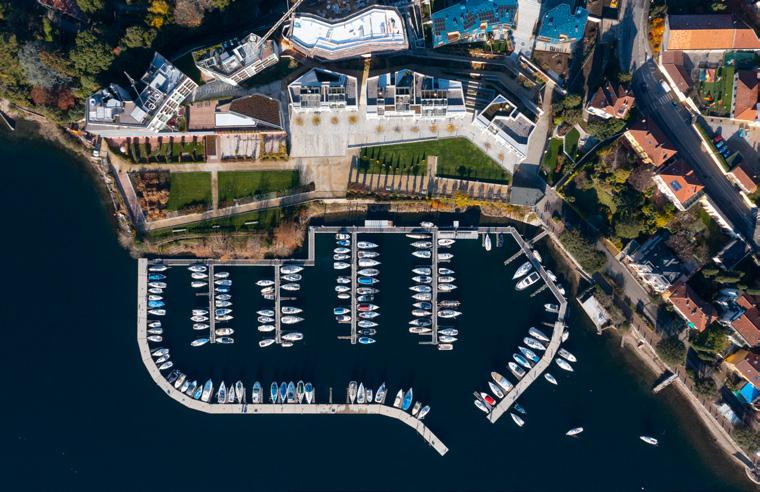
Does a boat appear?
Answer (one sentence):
Yes, the image includes a boat.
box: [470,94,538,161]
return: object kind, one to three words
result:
building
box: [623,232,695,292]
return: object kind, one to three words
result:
house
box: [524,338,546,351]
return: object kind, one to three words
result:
boat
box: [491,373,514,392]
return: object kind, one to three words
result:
boat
